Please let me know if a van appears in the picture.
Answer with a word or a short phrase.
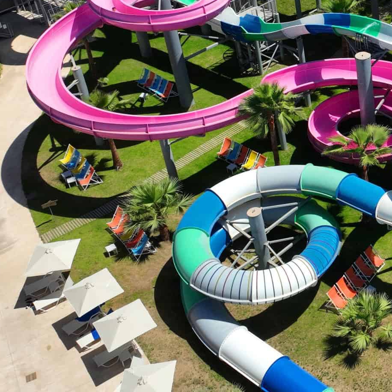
No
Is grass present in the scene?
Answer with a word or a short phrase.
Yes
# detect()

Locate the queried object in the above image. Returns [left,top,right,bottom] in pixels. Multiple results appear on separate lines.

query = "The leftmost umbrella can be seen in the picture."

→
[27,239,81,296]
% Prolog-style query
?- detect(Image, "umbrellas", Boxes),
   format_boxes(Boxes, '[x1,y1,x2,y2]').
[27,239,81,296]
[62,269,125,319]
[122,358,174,392]
[93,300,157,366]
